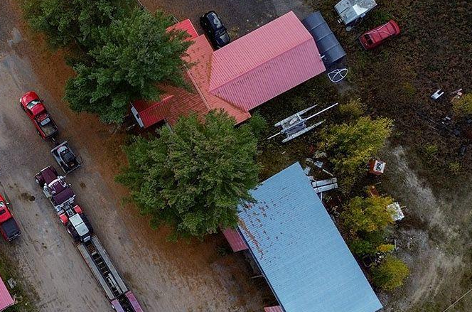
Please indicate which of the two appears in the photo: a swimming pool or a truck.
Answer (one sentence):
The image shows a truck.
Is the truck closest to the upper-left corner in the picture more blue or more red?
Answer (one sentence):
The color of the truck closest to the upper-left corner is red.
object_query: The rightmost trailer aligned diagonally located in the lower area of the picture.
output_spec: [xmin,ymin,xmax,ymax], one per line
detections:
[69,211,144,312]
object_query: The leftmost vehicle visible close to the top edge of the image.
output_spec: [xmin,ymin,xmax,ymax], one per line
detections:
[200,8,232,48]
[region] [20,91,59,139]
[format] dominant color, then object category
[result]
red truck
